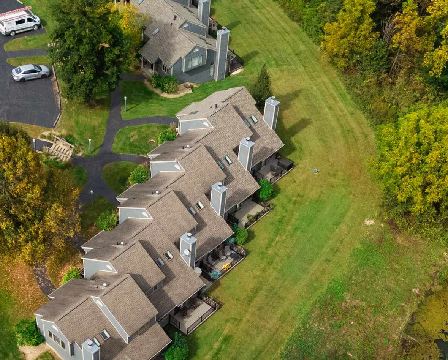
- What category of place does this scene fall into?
residential area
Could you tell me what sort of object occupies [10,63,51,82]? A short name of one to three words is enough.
car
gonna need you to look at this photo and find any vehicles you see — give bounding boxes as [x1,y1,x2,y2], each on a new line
[10,63,51,82]
[0,8,44,35]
